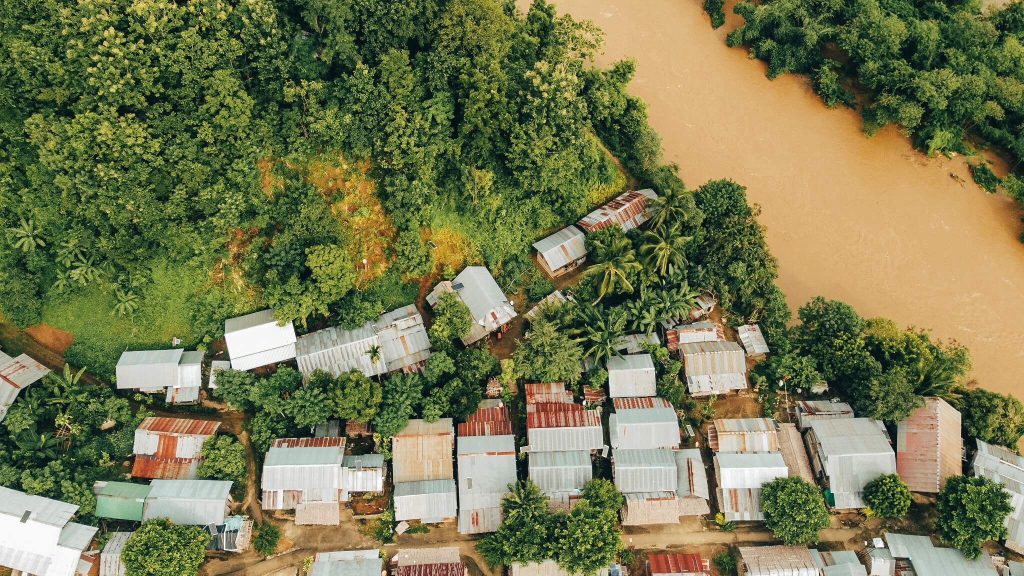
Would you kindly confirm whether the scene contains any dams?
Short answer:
No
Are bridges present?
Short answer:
No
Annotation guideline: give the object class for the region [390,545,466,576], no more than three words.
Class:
house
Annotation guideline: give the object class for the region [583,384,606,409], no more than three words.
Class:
shed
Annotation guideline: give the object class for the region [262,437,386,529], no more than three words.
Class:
house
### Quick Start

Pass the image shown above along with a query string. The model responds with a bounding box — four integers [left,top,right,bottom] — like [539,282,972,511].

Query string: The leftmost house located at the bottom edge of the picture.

[0,487,106,576]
